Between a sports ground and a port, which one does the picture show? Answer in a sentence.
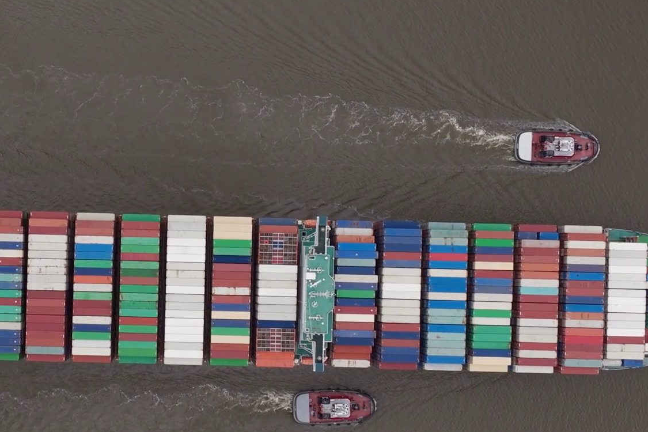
The area seen from above is a port.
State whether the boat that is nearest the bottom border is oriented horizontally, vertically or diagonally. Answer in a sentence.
In this picture, the boat that is nearest the bottom border lies horizontally.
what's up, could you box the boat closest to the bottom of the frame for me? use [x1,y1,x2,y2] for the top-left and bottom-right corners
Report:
[291,388,378,427]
